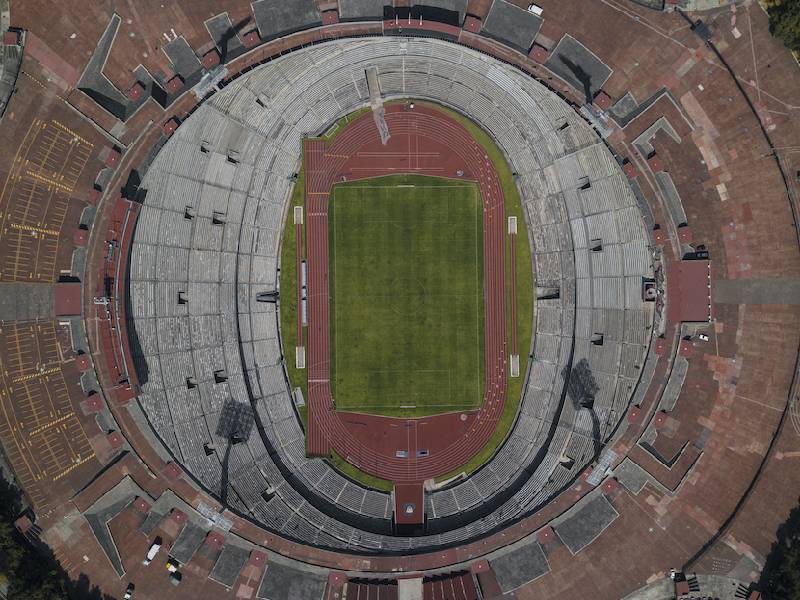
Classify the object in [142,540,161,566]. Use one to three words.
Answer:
vehicle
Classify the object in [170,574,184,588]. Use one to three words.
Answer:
vehicle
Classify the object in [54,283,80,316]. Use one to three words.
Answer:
building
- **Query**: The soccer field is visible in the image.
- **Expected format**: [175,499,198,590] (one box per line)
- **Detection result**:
[330,173,484,419]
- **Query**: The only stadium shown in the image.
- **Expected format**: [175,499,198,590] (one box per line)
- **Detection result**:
[70,12,696,580]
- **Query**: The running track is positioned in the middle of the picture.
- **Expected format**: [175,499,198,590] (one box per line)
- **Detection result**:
[302,102,505,480]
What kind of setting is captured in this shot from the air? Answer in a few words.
sports ground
